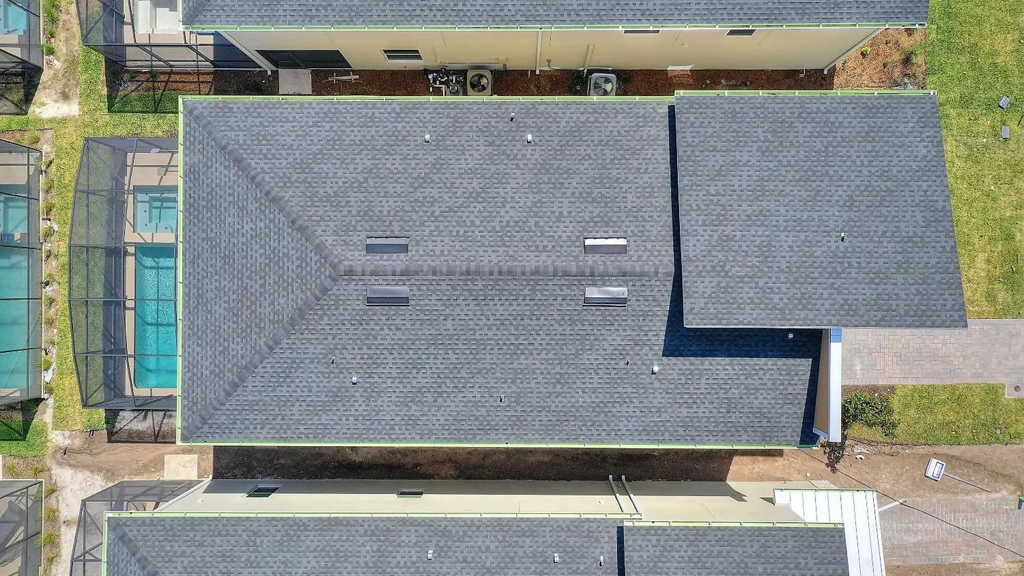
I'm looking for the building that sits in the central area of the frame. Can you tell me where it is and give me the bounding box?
[178,90,968,445]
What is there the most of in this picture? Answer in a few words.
buildings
